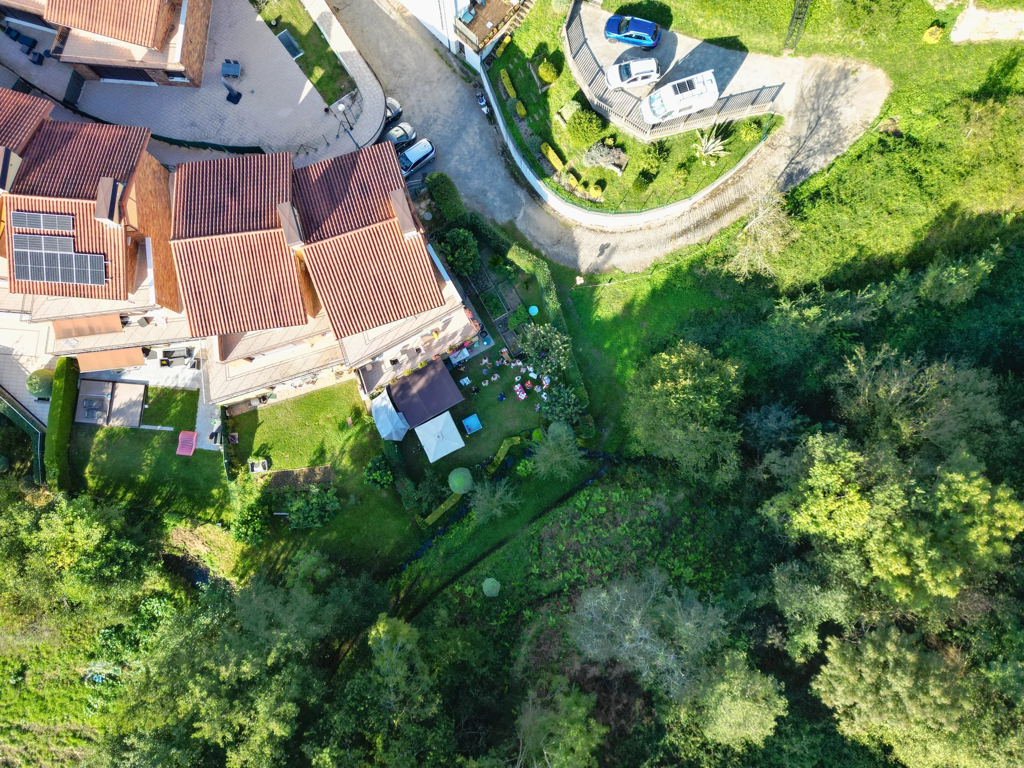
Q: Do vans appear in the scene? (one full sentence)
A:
Yes, the image includes a van.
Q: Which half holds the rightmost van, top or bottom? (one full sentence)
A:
The rightmost van is in the top half of the image.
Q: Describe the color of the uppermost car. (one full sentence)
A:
In this view, the uppermost car is blue.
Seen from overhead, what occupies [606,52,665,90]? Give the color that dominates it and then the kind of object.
white car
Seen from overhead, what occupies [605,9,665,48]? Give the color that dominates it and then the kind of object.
blue car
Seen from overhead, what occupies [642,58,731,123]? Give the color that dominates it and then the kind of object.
white van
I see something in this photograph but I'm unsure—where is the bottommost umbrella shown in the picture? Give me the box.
[414,411,464,463]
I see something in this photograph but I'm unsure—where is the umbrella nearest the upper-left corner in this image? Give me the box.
[222,80,243,105]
